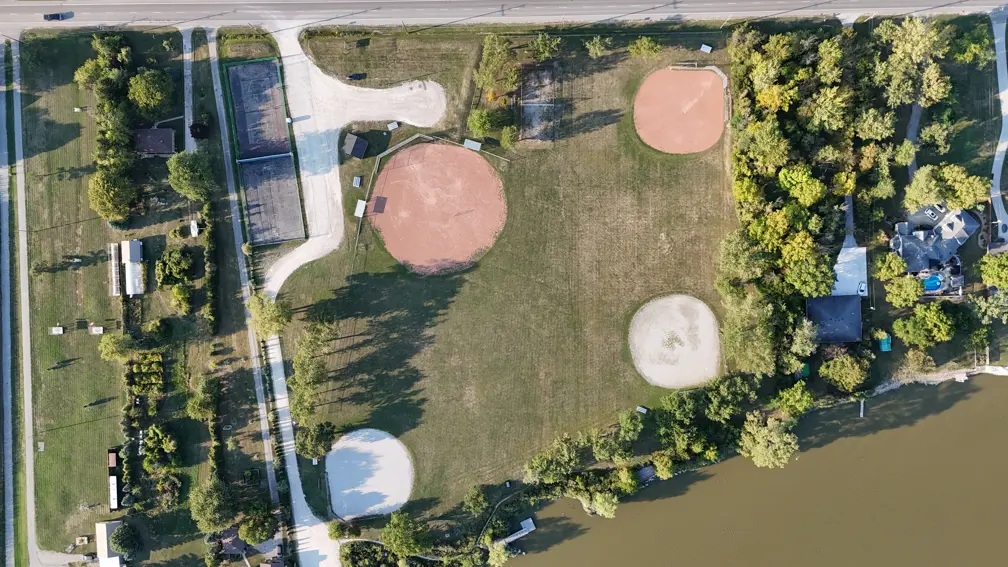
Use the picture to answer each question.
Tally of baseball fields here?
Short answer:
4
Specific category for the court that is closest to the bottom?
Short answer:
tennis court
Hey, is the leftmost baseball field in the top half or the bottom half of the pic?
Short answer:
bottom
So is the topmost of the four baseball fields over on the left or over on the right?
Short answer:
right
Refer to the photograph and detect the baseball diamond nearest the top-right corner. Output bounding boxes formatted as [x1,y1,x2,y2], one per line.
[634,69,725,155]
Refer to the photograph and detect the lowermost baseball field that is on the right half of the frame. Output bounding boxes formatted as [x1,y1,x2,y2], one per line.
[629,293,721,389]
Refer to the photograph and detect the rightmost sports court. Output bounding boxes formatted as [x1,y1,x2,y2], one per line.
[520,61,556,144]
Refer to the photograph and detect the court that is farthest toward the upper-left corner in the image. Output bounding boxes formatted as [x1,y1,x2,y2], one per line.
[229,61,291,158]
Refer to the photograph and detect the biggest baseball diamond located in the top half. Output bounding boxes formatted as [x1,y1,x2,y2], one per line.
[369,142,507,276]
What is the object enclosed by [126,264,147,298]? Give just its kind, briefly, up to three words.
greenhouse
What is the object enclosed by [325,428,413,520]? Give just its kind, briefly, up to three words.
baseball field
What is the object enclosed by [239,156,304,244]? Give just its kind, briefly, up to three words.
tennis court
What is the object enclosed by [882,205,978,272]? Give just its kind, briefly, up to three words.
house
